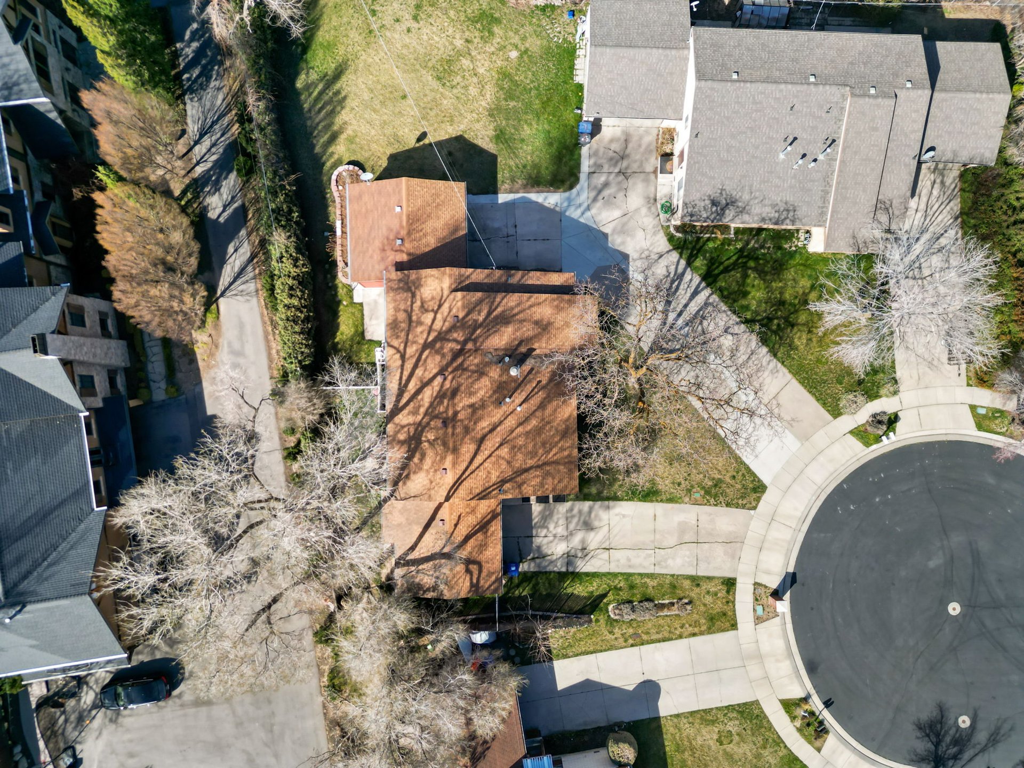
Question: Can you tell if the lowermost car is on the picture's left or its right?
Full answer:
The lowermost car sits on the left side.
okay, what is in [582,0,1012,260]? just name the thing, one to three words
house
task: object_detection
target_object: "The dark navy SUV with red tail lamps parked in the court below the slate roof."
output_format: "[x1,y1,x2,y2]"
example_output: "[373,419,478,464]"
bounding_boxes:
[94,679,167,720]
